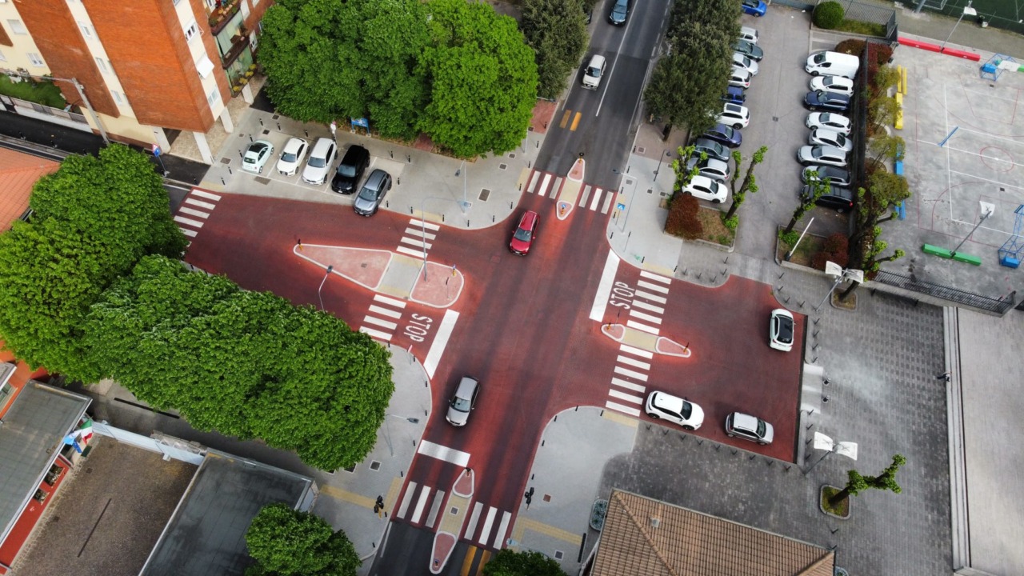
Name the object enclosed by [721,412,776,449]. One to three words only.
car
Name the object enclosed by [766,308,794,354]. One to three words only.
car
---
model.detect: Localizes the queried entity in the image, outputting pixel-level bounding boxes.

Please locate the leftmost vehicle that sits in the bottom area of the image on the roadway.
[446,373,481,429]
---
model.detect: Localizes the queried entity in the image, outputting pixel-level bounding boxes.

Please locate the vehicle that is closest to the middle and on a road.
[510,209,541,257]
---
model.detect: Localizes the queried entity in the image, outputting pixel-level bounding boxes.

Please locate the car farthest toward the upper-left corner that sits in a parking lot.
[242,138,276,173]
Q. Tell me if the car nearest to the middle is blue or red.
red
